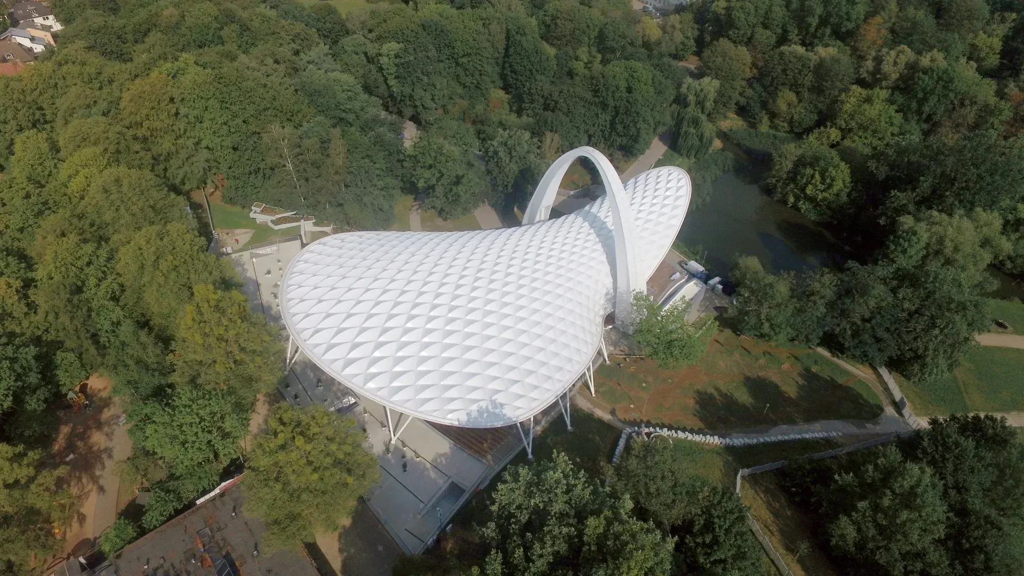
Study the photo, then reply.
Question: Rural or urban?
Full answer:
The area is rural.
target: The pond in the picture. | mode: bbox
[679,125,926,296]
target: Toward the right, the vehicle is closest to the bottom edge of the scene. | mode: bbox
[681,261,708,279]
